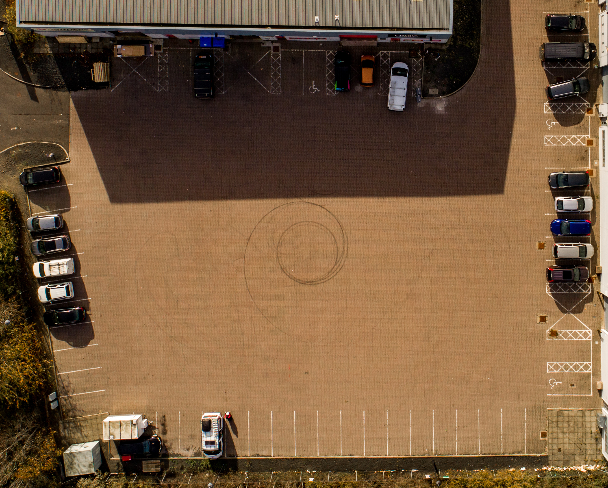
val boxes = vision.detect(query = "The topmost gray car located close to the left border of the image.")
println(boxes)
[27,214,65,234]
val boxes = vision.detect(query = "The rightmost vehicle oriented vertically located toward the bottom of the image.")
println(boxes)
[200,411,223,459]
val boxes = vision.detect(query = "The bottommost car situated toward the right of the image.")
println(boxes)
[545,263,589,284]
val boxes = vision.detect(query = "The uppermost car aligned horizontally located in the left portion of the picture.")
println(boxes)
[20,166,62,187]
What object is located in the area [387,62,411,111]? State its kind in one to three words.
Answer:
vehicle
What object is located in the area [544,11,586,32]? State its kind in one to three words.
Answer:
car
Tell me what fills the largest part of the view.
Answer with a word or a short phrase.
paved ground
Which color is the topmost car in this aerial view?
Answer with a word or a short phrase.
black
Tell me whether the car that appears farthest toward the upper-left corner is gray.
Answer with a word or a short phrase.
No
